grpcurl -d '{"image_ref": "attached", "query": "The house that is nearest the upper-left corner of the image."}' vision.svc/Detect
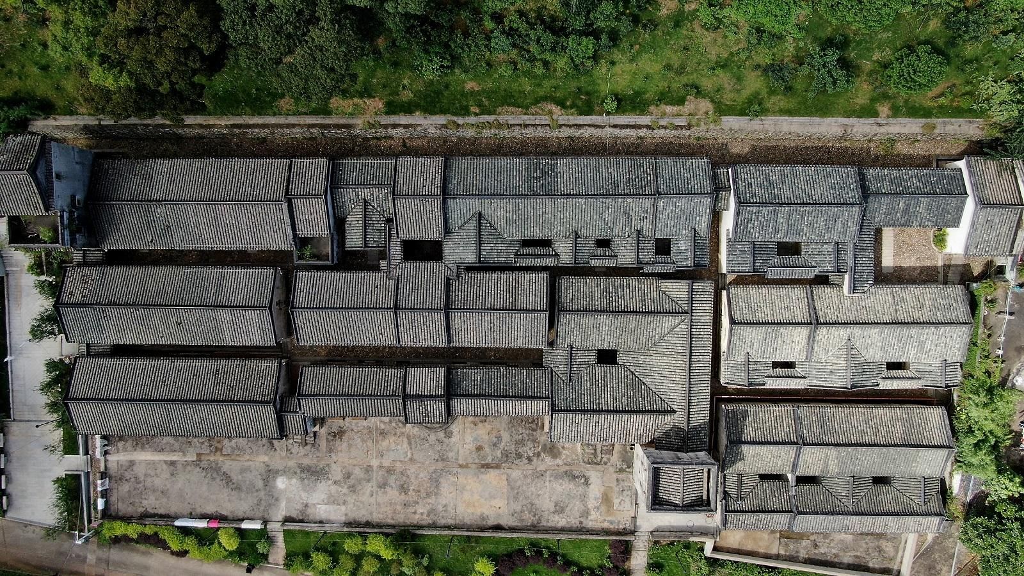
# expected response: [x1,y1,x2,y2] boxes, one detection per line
[0,133,115,255]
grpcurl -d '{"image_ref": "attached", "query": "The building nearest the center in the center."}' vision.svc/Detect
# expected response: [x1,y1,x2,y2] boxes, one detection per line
[447,272,550,348]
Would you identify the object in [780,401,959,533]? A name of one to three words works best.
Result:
house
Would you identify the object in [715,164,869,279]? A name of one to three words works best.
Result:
house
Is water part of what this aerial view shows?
No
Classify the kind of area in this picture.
residential area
